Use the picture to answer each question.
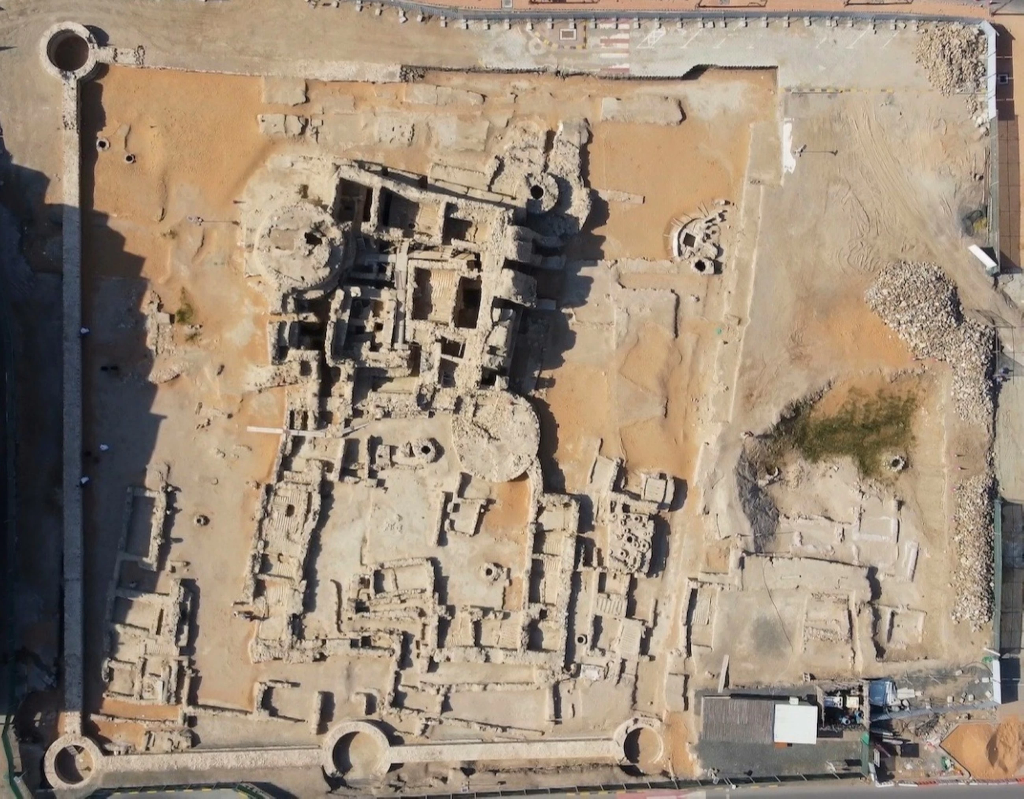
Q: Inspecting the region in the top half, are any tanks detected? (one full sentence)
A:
No, in the top half there is no tank.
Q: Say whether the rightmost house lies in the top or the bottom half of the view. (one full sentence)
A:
The rightmost house sits in the bottom half of the picture.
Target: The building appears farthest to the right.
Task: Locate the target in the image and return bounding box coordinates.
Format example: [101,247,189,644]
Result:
[875,605,928,649]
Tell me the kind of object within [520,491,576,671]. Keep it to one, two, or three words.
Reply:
house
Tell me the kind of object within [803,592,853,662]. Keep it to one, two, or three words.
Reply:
house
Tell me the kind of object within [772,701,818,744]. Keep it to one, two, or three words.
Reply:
building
